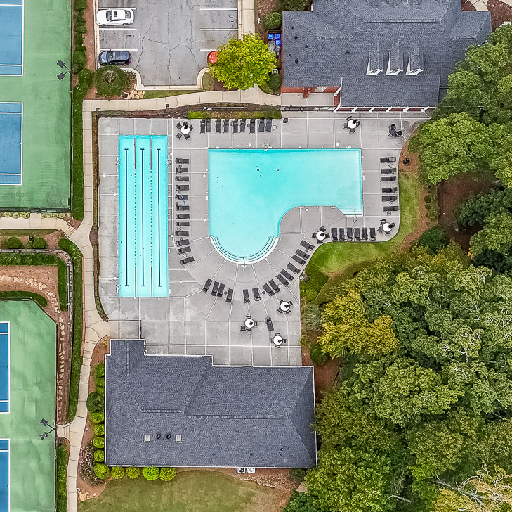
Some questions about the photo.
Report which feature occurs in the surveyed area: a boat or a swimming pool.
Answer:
swimming pool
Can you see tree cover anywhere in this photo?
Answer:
Yes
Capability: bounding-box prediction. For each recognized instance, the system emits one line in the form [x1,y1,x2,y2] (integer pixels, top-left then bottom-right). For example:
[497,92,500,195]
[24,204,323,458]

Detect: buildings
[277,0,492,112]
[104,337,318,468]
